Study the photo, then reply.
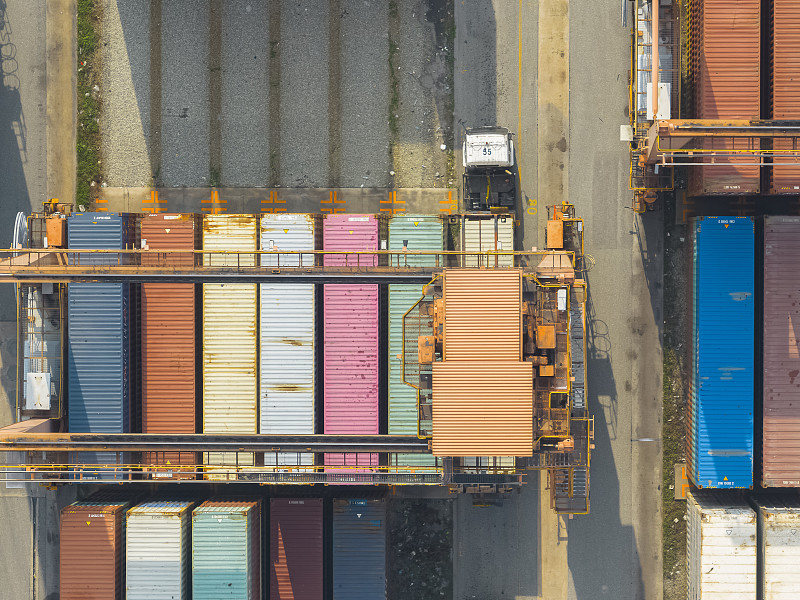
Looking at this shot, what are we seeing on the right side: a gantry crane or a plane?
gantry crane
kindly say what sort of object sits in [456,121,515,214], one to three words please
truck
